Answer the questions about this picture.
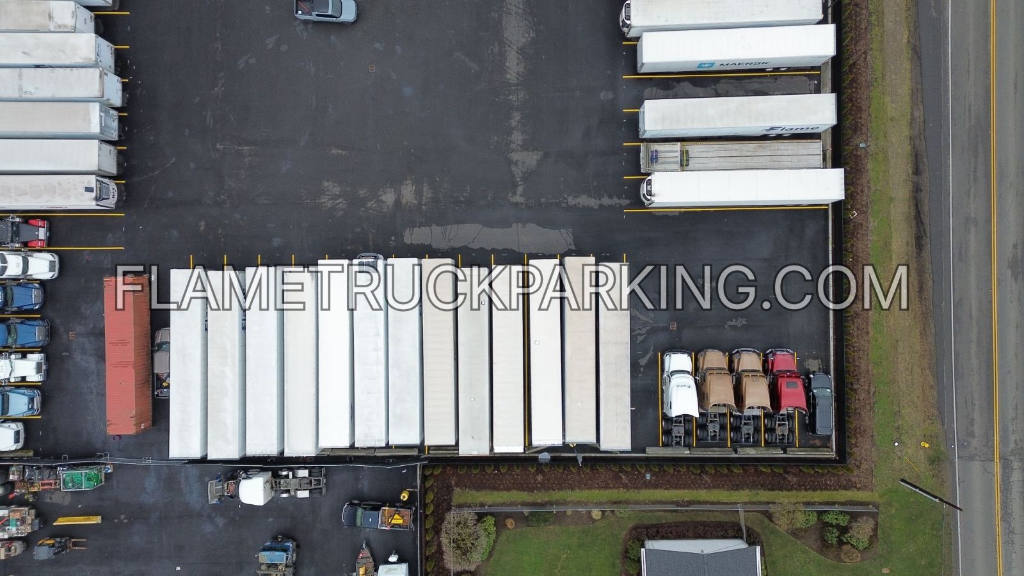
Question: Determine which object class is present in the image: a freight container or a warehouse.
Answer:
freight container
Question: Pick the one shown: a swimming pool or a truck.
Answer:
truck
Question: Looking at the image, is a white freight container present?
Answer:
No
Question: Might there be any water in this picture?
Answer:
No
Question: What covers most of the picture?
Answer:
paved ground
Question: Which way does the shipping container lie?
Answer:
vertically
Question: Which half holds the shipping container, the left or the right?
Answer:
left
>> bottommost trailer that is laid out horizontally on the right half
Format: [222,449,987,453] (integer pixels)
[641,169,845,207]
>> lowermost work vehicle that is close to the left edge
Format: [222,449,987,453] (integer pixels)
[26,540,87,565]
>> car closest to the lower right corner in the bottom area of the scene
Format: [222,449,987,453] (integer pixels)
[806,374,837,437]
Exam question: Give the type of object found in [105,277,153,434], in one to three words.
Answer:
shipping container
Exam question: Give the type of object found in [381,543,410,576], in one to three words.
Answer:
vehicle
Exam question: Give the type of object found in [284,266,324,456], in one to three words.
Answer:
trailer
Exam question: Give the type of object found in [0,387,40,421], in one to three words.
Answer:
truck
